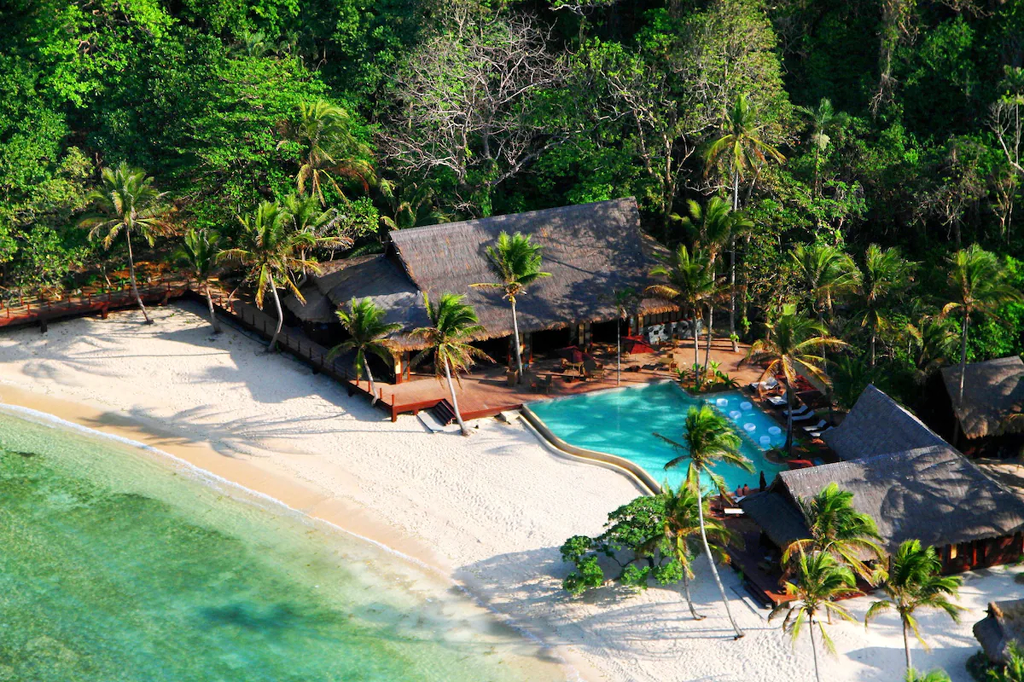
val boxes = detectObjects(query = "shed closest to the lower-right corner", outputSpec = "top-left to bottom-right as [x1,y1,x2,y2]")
[967,593,1024,664]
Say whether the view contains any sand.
Yes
